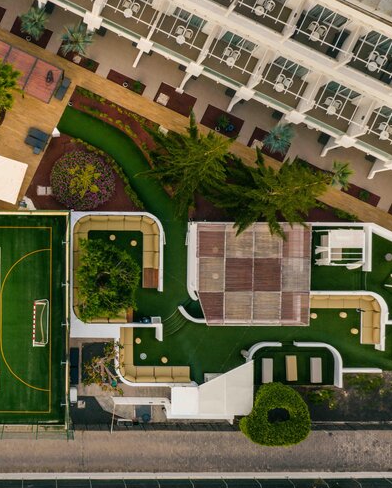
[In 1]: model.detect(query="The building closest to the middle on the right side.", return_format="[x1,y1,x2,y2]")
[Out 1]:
[192,223,311,325]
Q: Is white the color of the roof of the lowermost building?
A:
Yes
